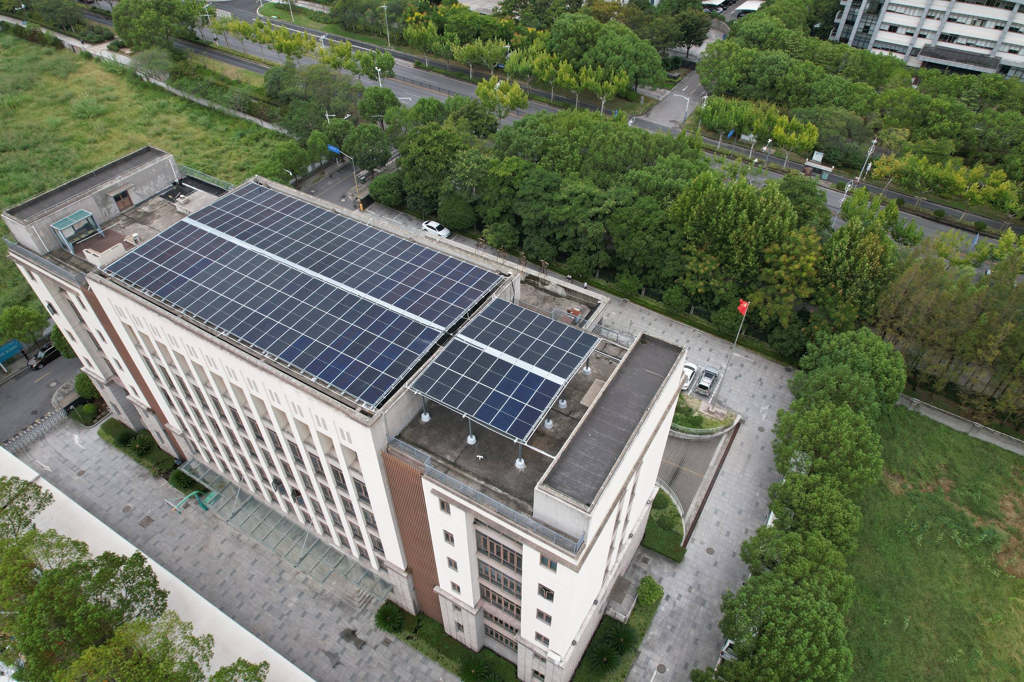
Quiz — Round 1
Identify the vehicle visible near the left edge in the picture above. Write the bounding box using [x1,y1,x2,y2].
[18,333,64,366]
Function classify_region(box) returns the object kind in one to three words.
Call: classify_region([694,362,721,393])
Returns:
car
